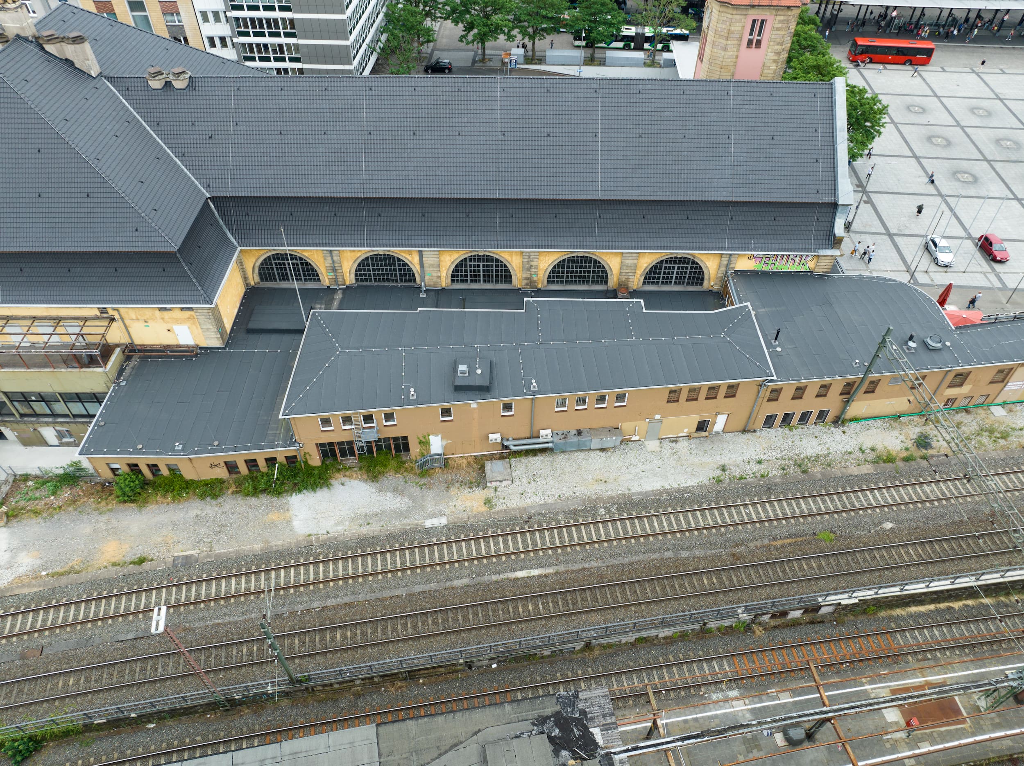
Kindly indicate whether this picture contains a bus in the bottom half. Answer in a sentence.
No, no bus is visible in the bottom half.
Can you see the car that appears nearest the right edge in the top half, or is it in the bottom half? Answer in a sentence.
The car that appears nearest the right edge sits in the top half of the picture.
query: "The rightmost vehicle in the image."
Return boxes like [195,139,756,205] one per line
[978,230,1014,259]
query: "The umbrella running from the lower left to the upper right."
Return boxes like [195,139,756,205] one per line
[938,282,955,305]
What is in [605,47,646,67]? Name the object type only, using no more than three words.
shed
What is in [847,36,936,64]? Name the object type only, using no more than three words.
bus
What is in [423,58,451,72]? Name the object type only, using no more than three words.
car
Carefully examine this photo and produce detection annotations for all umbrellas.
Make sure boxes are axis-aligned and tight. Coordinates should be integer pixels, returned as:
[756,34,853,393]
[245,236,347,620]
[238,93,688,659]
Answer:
[939,302,990,328]
[938,282,955,305]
